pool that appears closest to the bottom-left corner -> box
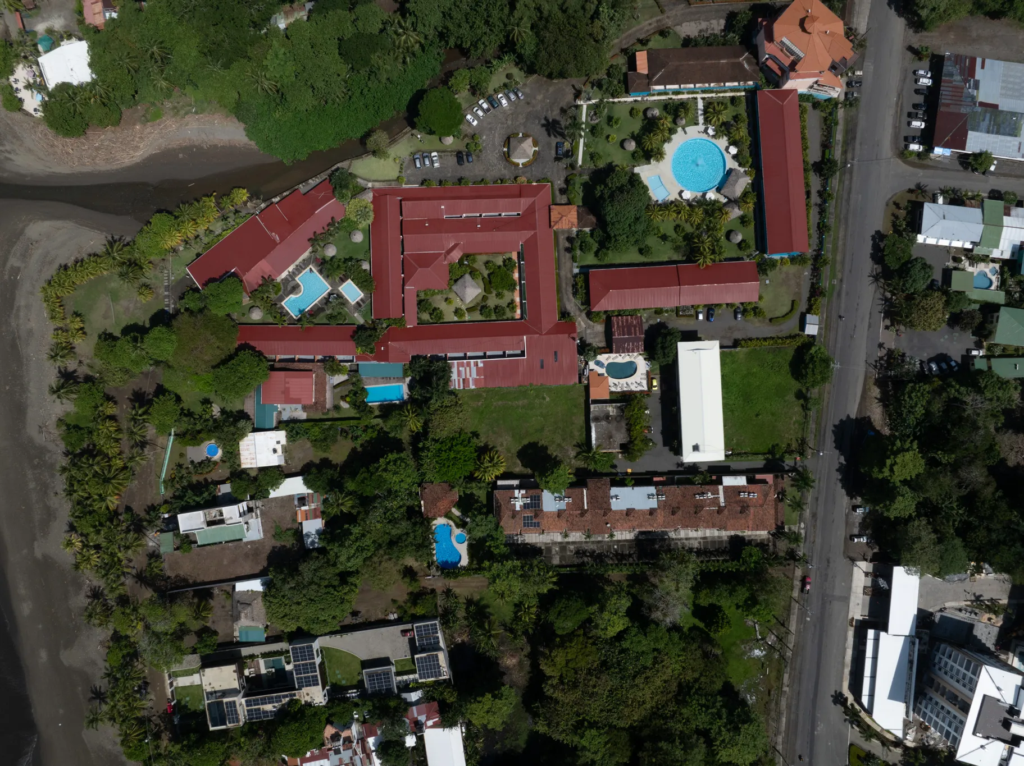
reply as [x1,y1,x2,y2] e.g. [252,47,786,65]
[262,656,288,690]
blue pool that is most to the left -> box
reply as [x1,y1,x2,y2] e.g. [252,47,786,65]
[205,443,220,458]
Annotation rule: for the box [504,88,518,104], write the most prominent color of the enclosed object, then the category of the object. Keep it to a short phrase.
gray car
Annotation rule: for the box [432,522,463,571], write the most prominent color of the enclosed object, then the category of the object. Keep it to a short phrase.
blue swimming pool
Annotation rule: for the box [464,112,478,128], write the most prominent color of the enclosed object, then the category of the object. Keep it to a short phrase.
white car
